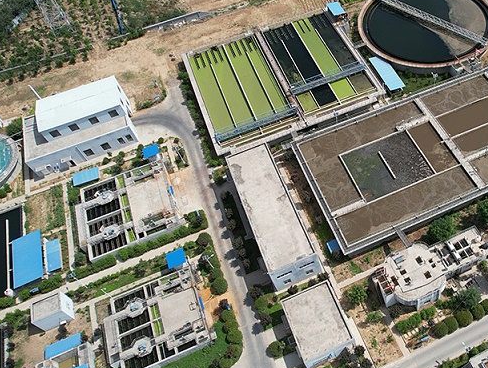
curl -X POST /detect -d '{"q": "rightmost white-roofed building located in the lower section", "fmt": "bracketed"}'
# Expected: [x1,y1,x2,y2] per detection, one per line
[372,224,488,313]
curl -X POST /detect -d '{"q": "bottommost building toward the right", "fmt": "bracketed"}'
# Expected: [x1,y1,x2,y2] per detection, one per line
[281,280,359,368]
